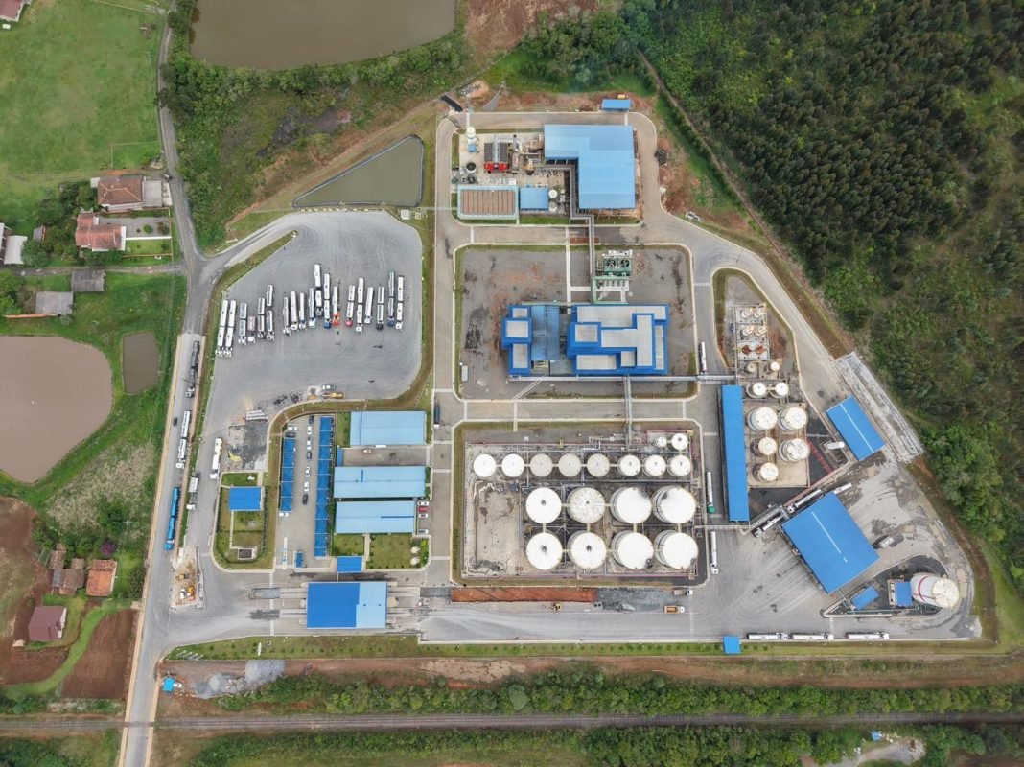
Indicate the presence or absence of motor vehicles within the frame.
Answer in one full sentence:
Yes, the picture does show a motor vehicle.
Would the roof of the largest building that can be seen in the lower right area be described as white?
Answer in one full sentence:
No, the roof of the largest building that can be seen in the lower right area is actually blue.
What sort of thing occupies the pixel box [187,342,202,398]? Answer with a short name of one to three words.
vehicle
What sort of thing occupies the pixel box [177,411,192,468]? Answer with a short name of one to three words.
vehicle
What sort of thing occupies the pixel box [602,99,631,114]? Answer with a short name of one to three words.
shed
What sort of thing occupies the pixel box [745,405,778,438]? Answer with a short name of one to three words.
storage tank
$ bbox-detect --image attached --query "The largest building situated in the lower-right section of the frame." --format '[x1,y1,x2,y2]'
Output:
[889,581,913,606]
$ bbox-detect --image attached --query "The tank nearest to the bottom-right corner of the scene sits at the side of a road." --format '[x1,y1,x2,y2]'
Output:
[910,574,960,607]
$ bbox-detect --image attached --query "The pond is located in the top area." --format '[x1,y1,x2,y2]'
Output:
[296,136,423,205]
